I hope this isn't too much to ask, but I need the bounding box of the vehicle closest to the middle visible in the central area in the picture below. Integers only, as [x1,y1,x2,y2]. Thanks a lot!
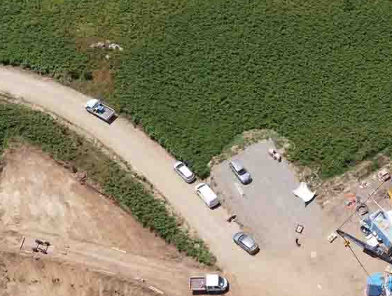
[172,158,196,181]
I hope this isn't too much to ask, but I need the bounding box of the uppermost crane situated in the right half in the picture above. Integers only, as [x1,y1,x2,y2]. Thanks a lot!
[341,180,392,280]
